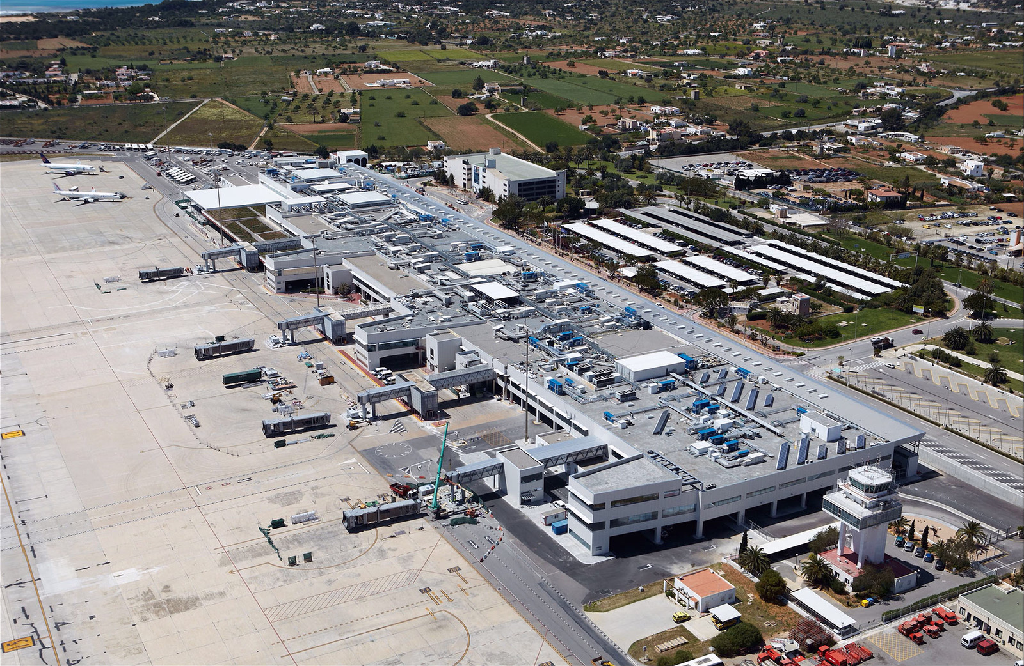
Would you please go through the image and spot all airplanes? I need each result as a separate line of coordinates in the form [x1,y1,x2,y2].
[34,148,99,174]
[48,174,118,204]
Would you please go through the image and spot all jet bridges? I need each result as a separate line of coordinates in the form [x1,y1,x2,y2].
[340,495,423,532]
[269,300,391,349]
[137,263,185,280]
[260,408,332,436]
[195,237,303,276]
[350,365,498,429]
[192,336,256,360]
[441,442,622,517]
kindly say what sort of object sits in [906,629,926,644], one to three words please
work vehicle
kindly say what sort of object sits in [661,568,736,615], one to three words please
house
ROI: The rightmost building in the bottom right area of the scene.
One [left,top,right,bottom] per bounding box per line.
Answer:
[956,574,1024,655]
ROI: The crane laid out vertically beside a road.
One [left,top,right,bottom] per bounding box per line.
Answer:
[416,421,460,527]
